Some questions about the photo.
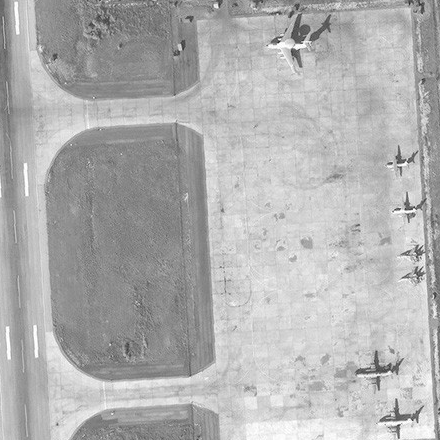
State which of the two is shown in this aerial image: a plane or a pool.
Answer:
plane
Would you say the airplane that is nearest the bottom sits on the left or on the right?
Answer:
right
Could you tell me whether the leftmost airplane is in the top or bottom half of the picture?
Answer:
top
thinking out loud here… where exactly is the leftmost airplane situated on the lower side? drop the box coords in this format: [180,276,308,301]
[356,354,394,394]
